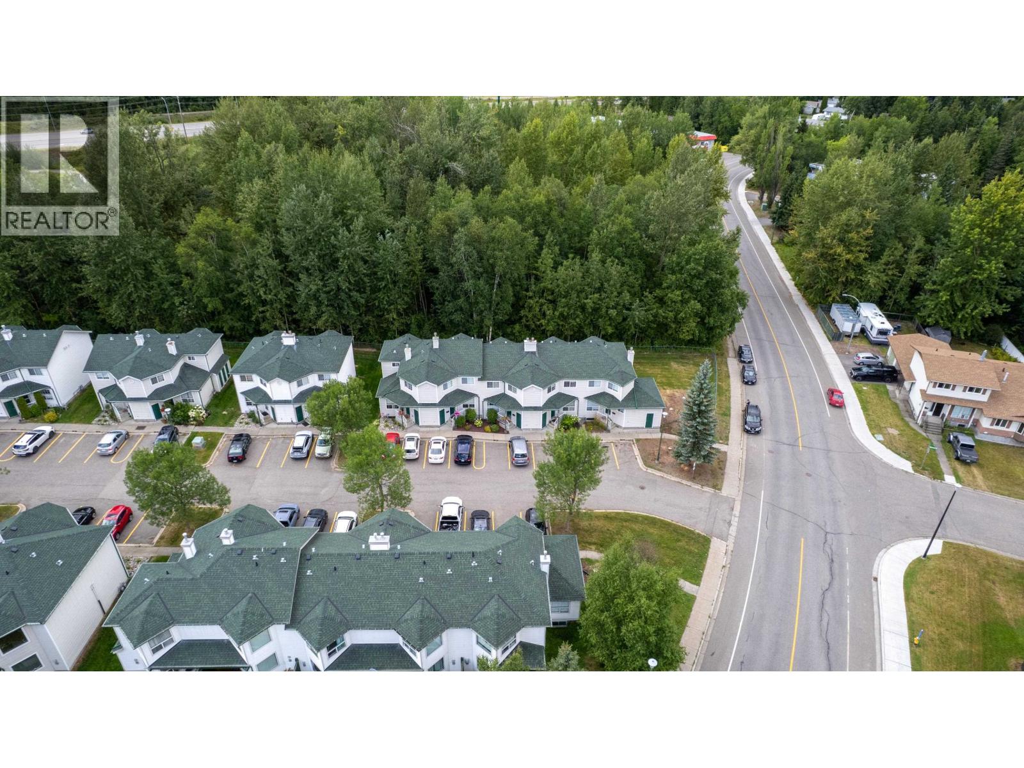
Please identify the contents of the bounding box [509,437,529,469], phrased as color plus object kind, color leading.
gray vehicle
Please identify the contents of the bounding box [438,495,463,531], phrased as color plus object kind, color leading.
white truck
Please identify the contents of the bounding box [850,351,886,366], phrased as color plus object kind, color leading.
gray car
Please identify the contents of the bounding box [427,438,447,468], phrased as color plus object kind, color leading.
white car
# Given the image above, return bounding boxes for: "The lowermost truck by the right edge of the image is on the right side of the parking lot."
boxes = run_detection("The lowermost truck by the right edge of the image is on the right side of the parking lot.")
[938,432,989,468]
